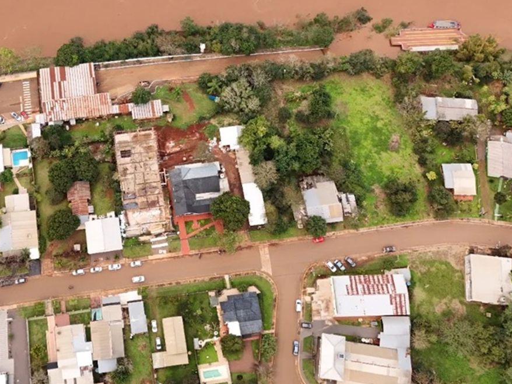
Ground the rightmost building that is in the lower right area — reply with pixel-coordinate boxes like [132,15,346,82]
[458,254,512,308]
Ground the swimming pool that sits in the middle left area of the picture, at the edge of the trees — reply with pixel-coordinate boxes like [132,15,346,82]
[11,149,31,167]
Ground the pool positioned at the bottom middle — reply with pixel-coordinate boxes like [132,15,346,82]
[201,365,231,383]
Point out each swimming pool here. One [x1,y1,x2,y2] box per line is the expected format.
[201,365,231,383]
[11,149,31,167]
